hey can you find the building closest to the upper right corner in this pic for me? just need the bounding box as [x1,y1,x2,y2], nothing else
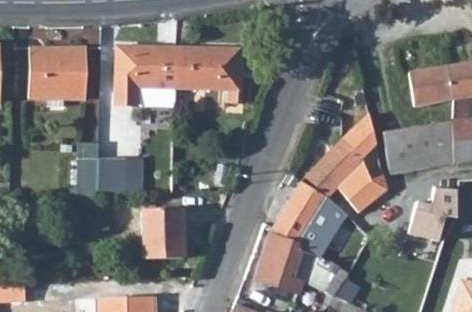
[410,61,472,108]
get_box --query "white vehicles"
[247,285,272,302]
[182,196,203,206]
